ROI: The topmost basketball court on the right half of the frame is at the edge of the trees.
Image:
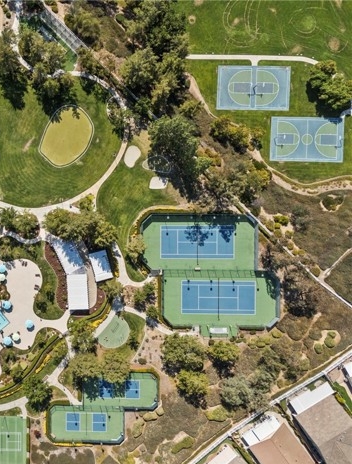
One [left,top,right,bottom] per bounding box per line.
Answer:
[215,64,292,111]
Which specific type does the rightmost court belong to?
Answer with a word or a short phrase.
basketball court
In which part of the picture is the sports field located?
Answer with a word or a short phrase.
top right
